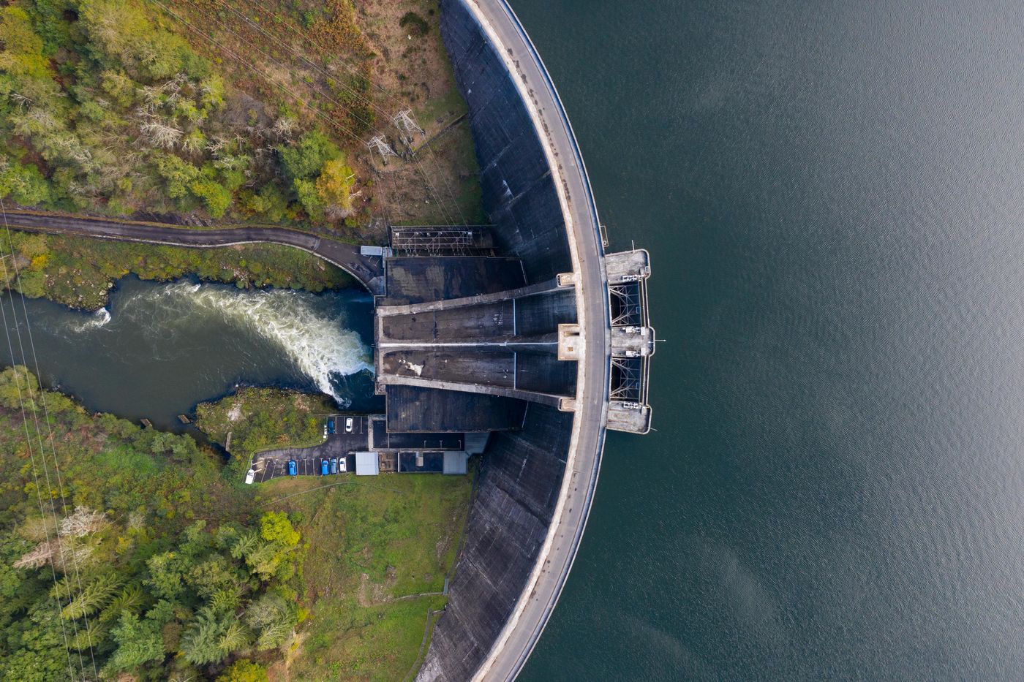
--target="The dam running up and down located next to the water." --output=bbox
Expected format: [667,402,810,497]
[418,0,614,682]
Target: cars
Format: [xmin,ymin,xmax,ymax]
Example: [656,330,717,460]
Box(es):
[346,418,353,432]
[330,459,337,473]
[322,460,329,474]
[328,419,334,434]
[245,469,254,484]
[289,461,296,475]
[339,458,346,472]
